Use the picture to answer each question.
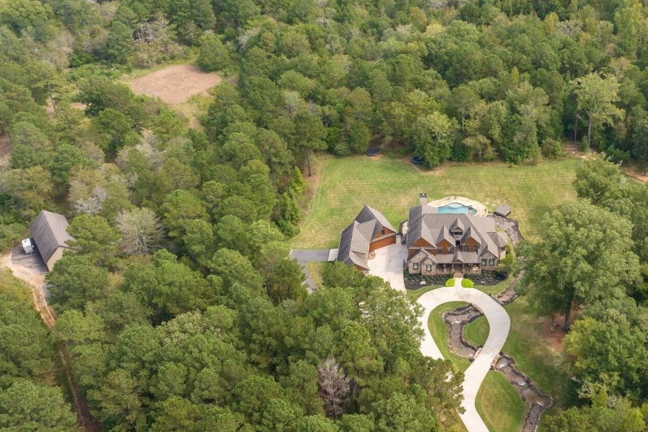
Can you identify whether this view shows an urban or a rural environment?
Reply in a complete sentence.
This place is rural.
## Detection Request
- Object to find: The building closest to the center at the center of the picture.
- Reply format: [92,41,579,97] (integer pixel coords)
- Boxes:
[336,205,399,278]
